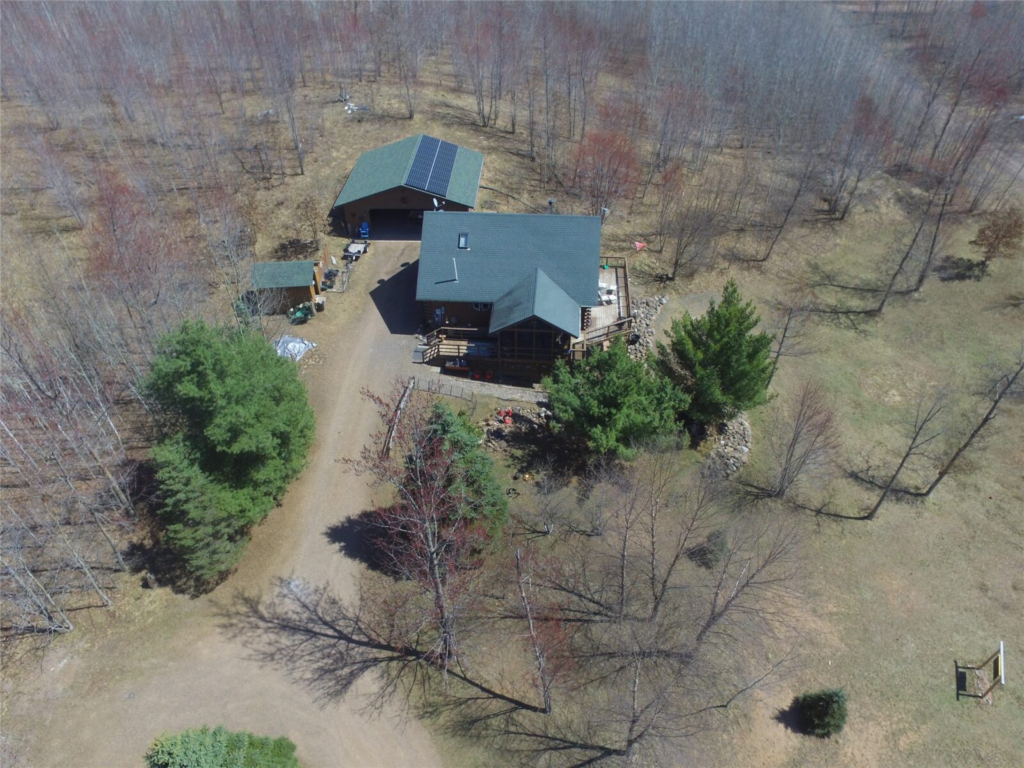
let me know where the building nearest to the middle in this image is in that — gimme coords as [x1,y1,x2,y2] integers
[417,201,601,392]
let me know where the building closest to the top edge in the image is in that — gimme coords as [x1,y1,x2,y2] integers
[335,135,485,243]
